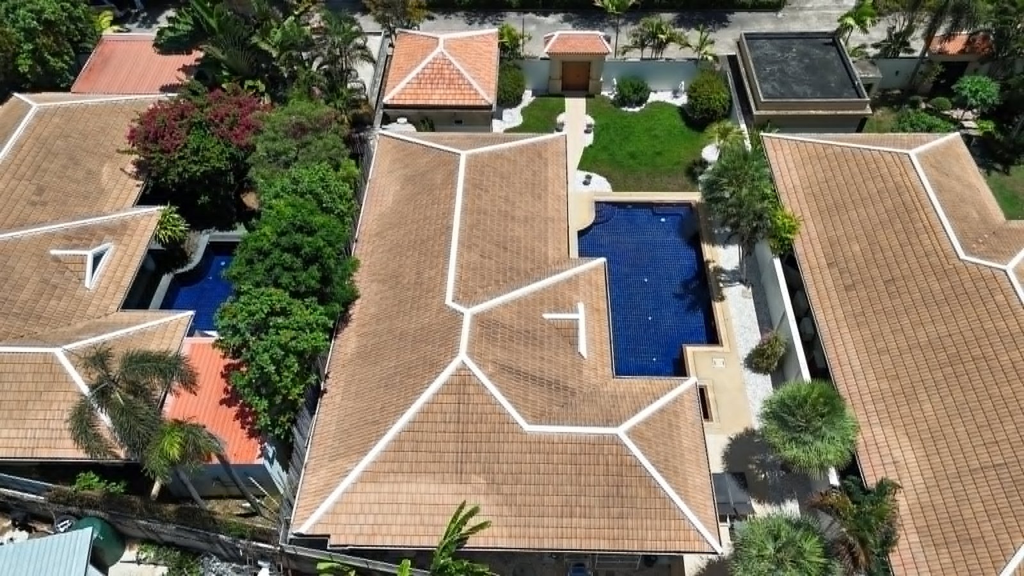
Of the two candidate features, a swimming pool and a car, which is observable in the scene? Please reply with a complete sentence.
Of the two, only a swimming pool appears.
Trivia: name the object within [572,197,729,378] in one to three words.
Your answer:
swimming pool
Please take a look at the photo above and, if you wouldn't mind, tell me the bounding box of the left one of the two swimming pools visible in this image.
[149,227,246,332]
